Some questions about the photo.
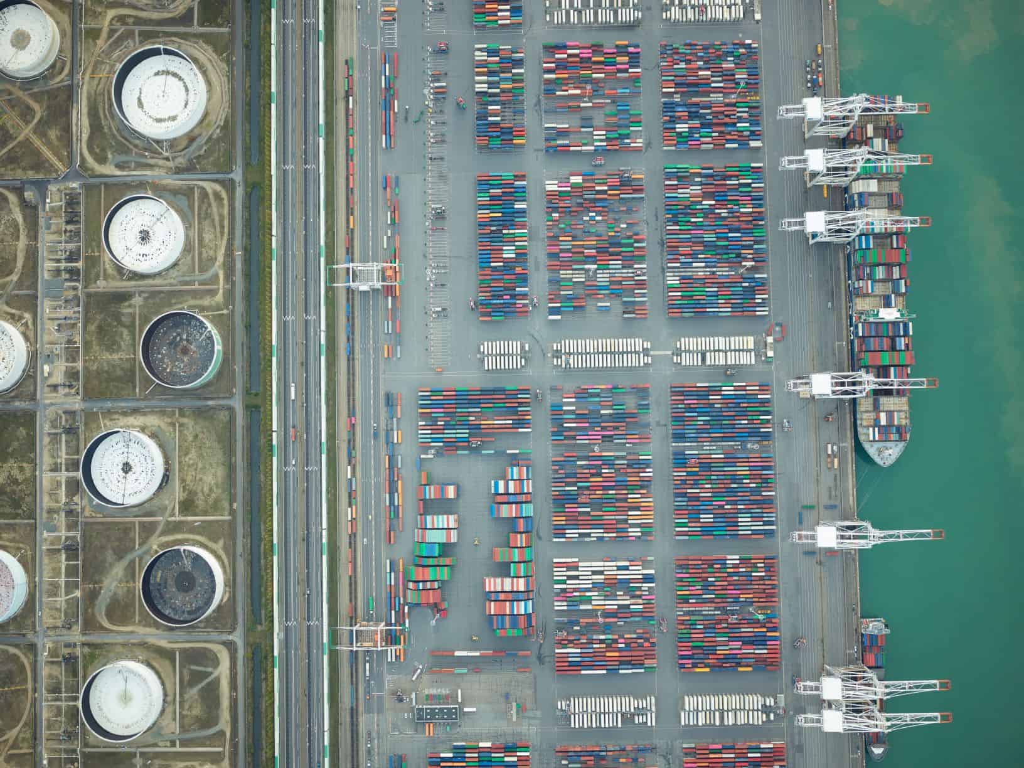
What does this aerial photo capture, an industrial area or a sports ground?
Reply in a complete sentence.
This looks like an industrial area.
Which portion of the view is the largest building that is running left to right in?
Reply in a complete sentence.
You can find the largest building that is running left to right in the bottom area of the picture.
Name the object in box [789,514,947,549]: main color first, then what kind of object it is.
white container crane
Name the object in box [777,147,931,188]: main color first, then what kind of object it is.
white container crane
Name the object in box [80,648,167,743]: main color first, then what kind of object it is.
white storage tank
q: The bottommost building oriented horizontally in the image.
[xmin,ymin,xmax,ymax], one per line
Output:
[416,703,460,723]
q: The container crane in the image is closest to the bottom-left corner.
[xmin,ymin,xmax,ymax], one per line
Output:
[332,619,412,651]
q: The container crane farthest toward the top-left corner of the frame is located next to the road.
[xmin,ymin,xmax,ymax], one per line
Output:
[326,262,403,292]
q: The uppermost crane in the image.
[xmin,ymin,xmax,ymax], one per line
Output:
[775,95,929,141]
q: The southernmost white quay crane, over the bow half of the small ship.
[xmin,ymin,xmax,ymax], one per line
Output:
[795,693,955,733]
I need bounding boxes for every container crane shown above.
[775,95,929,141]
[332,619,412,651]
[794,657,953,700]
[779,209,934,247]
[777,147,931,188]
[784,371,941,402]
[795,693,955,733]
[326,262,403,292]
[789,514,947,549]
